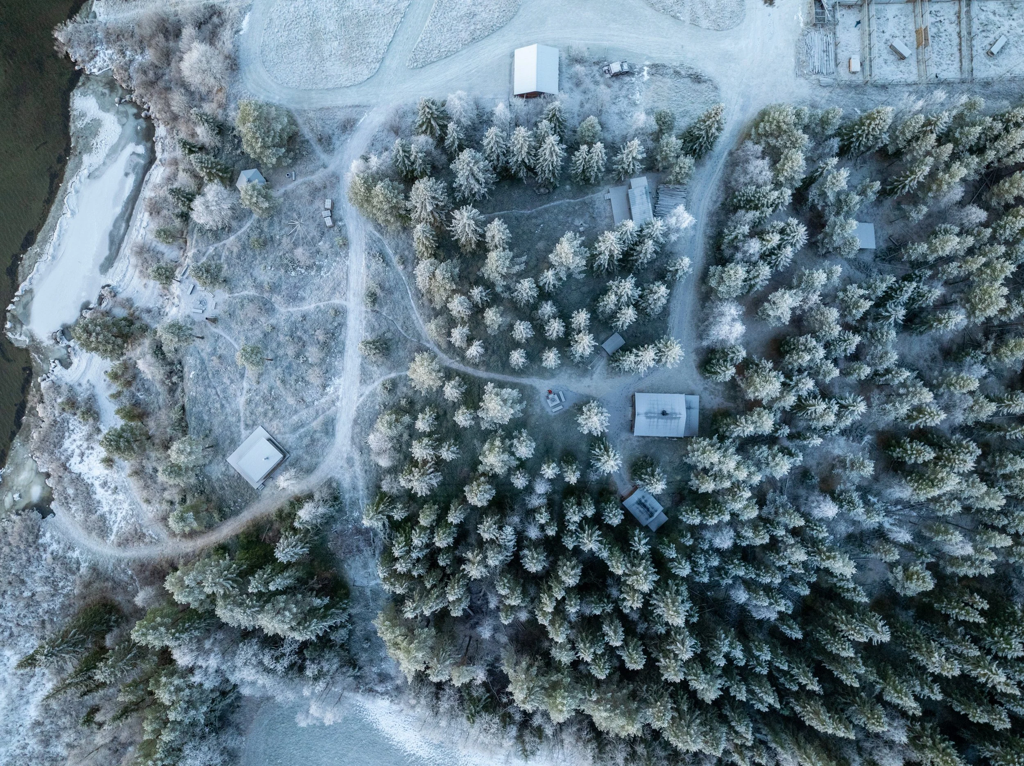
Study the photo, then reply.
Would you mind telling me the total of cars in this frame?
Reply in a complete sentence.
I count just 1 car.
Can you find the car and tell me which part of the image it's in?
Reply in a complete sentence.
The car is located in the top region of the scene.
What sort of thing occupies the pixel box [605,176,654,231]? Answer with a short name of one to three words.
building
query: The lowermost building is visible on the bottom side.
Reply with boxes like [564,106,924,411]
[617,481,664,527]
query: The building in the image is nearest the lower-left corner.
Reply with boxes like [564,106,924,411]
[227,425,290,493]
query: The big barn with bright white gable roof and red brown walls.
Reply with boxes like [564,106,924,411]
[514,43,559,100]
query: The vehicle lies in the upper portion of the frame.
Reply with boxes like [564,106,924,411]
[603,57,632,77]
